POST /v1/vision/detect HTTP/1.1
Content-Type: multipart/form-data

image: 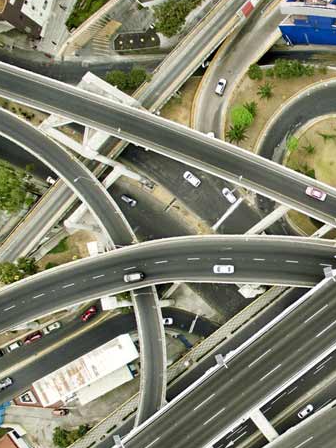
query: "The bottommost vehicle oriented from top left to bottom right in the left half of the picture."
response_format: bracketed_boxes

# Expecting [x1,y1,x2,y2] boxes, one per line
[121,193,138,207]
